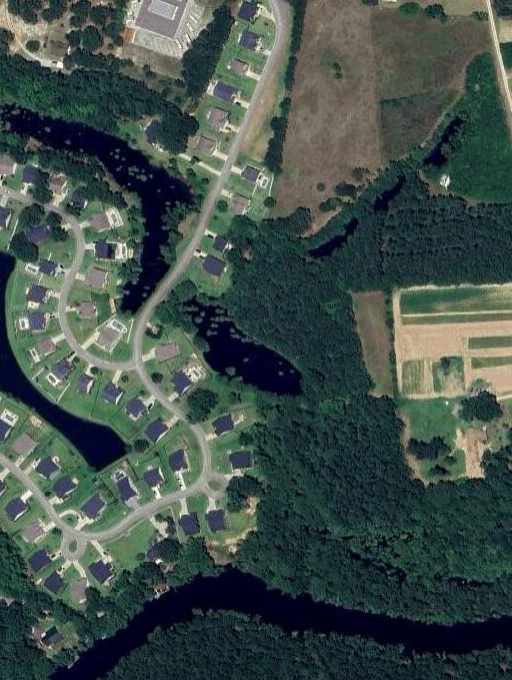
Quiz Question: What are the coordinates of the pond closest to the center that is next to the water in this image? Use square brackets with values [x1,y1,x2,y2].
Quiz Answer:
[182,300,302,398]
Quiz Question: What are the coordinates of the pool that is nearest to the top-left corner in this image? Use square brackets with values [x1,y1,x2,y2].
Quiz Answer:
[107,207,121,225]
